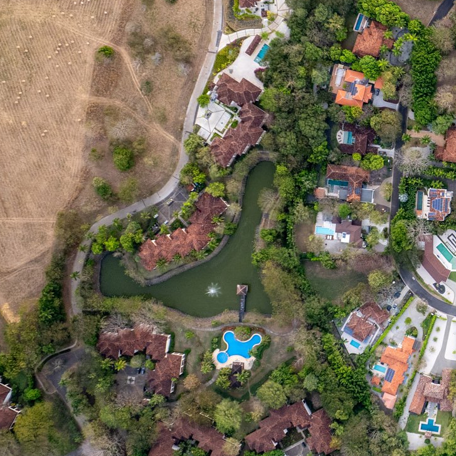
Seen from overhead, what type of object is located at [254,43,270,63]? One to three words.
swimming pool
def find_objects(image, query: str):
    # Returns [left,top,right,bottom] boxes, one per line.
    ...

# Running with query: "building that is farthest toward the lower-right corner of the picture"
[411,368,456,414]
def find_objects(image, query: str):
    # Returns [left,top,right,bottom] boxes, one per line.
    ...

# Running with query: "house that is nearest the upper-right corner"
[360,21,395,54]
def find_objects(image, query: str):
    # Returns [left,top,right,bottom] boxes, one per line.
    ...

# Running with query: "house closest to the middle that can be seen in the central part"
[139,185,224,269]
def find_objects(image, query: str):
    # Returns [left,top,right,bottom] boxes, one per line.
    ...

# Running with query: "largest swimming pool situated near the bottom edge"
[420,418,440,434]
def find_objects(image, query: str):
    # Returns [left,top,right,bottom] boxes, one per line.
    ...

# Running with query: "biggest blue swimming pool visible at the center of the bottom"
[223,330,262,360]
